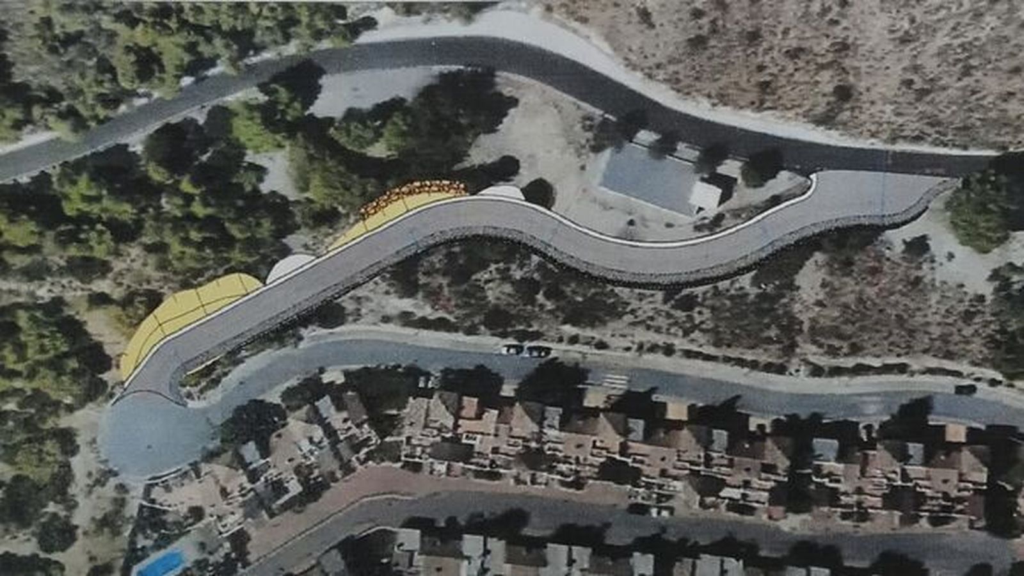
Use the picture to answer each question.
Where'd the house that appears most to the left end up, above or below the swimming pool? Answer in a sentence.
In the image, the house that appears most to the left sits above the swimming pool.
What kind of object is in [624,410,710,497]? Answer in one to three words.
house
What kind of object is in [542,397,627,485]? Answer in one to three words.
house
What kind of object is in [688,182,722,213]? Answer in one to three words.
shed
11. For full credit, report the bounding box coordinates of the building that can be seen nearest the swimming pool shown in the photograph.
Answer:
[153,451,264,530]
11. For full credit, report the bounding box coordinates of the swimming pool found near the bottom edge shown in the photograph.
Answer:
[129,549,193,576]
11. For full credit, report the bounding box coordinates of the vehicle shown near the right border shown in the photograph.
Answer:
[954,383,978,395]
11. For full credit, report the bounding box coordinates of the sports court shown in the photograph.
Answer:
[594,141,704,217]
